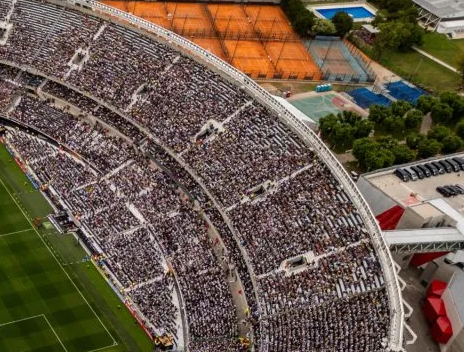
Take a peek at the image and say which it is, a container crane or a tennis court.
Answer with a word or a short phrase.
tennis court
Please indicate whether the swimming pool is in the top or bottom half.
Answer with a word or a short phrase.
top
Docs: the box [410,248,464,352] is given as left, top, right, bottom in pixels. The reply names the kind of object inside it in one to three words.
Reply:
building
